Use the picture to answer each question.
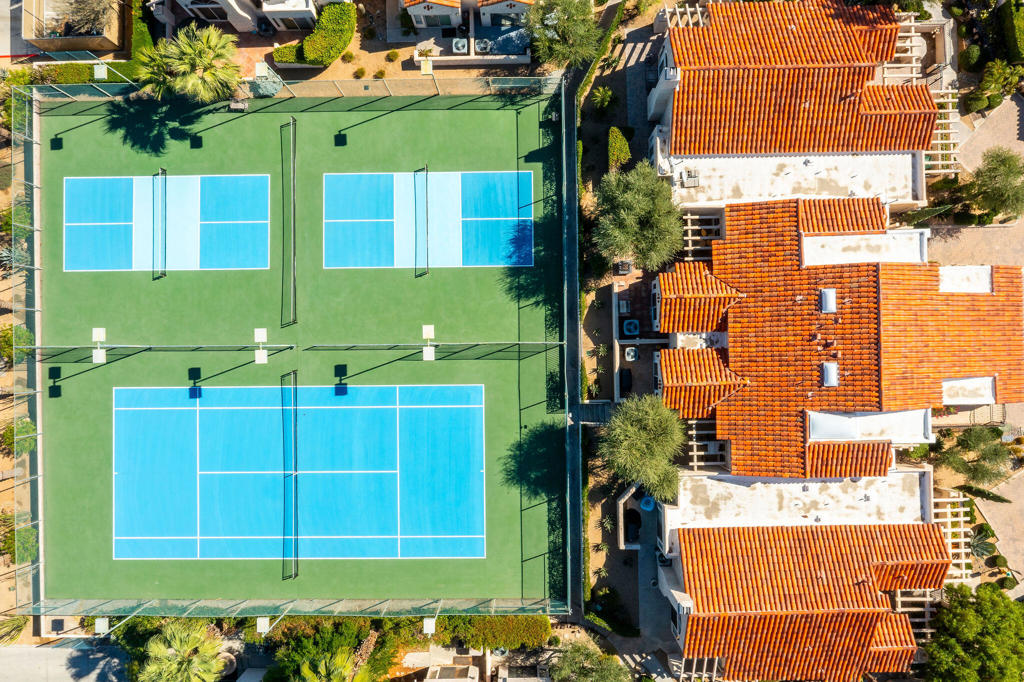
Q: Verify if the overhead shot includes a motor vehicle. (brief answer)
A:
No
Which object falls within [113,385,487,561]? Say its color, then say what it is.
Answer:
blue tennis court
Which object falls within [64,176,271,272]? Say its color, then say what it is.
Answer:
blue sports court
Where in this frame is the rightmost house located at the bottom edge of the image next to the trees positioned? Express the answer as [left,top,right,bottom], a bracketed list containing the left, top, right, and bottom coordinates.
[649,458,952,682]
